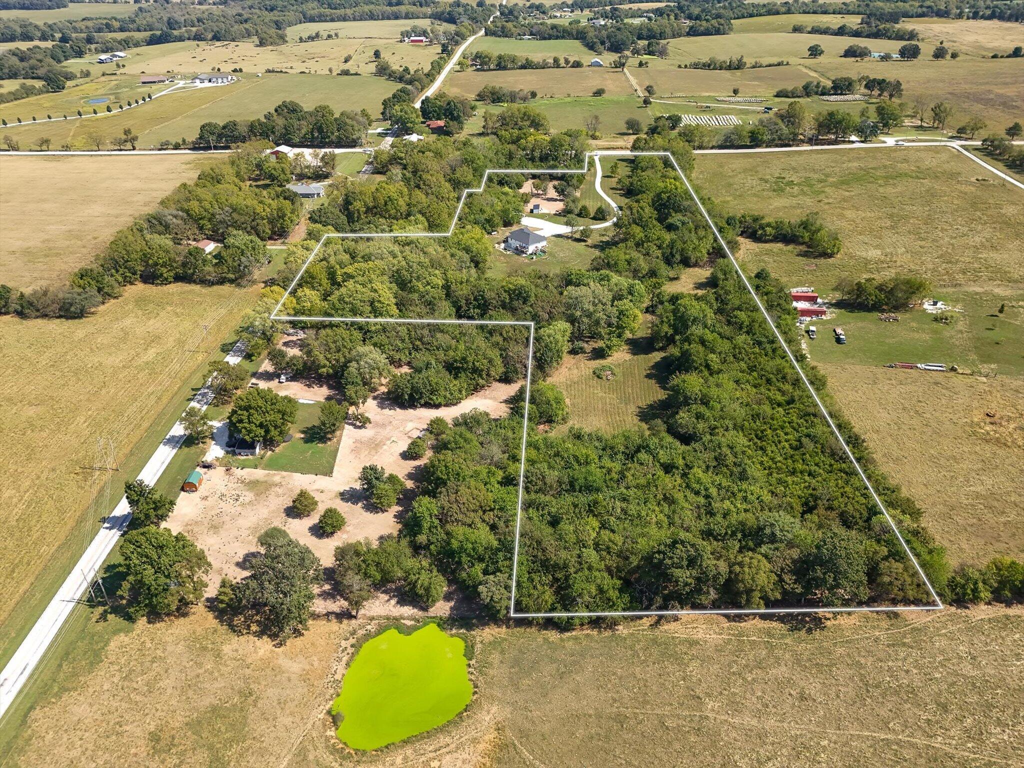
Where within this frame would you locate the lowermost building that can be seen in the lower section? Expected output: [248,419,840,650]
[180,467,204,493]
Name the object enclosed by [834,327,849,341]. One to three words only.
vehicle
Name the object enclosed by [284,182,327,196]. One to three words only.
house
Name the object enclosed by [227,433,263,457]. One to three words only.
house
